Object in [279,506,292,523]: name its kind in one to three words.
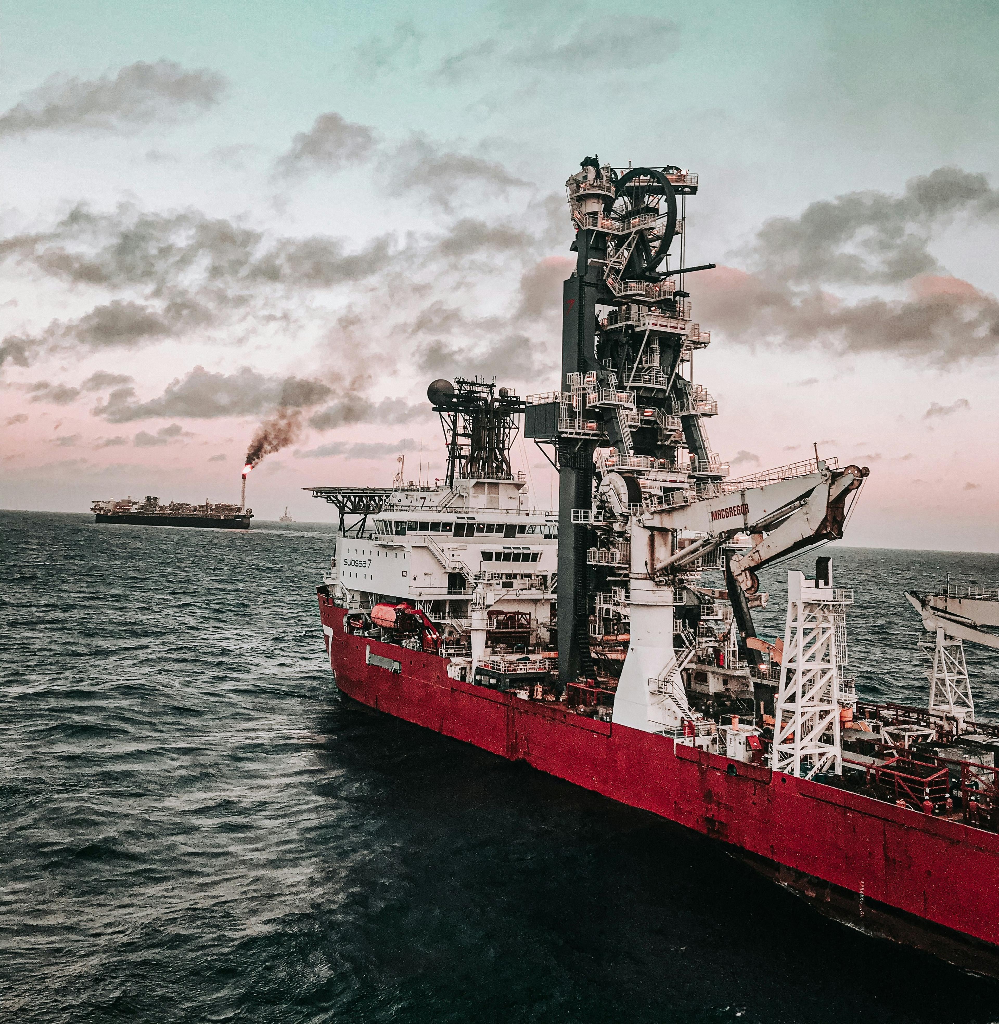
ship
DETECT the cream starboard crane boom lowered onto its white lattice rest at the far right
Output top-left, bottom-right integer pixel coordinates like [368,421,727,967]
[904,572,999,647]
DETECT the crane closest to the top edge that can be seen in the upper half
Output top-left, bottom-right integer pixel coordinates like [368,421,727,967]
[560,154,617,221]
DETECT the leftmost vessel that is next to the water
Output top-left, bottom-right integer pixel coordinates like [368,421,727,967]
[92,474,256,529]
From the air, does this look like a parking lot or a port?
port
